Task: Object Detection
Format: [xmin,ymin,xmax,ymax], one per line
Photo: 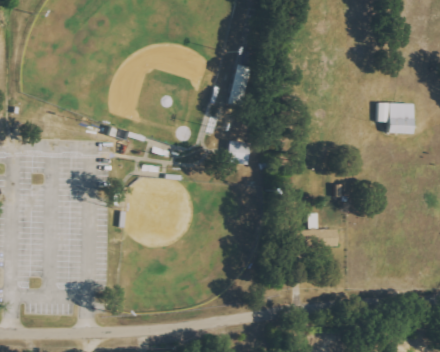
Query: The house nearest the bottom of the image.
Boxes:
[301,229,340,246]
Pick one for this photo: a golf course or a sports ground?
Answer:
sports ground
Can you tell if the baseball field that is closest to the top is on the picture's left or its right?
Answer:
left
